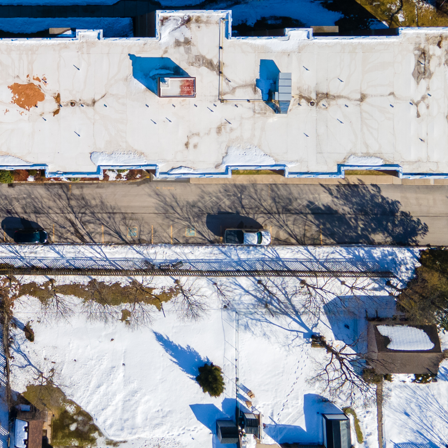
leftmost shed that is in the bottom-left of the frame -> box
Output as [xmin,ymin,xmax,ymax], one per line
[14,413,43,448]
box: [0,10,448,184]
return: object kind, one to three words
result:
building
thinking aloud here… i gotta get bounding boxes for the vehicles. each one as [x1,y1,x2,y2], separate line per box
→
[224,228,269,246]
[14,228,47,245]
